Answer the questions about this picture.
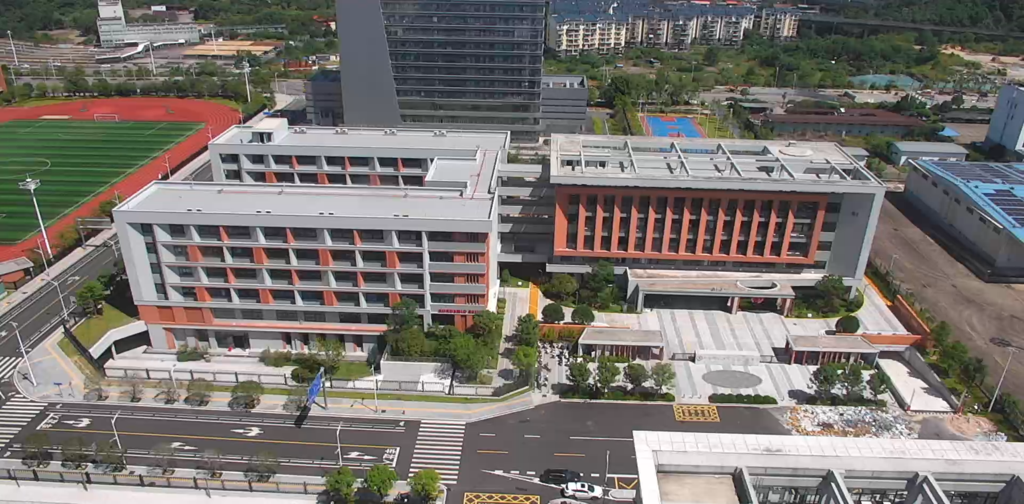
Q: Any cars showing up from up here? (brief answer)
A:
Yes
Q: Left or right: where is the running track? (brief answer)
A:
left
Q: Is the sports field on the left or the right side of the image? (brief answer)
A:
left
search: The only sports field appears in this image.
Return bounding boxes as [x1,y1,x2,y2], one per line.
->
[0,118,205,242]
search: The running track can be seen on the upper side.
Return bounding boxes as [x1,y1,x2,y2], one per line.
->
[0,97,236,262]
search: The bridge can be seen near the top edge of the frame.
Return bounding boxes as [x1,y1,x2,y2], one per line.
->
[807,16,1024,58]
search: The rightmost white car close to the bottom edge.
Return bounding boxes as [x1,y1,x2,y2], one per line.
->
[561,477,603,501]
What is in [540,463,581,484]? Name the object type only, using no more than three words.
car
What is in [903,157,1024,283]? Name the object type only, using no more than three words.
warehouse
